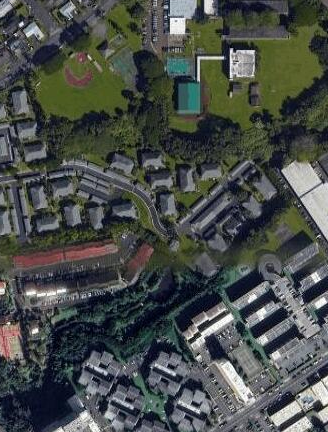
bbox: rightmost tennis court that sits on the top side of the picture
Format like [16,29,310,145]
[165,58,193,76]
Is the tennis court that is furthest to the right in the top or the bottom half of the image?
bottom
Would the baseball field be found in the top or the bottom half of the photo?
top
